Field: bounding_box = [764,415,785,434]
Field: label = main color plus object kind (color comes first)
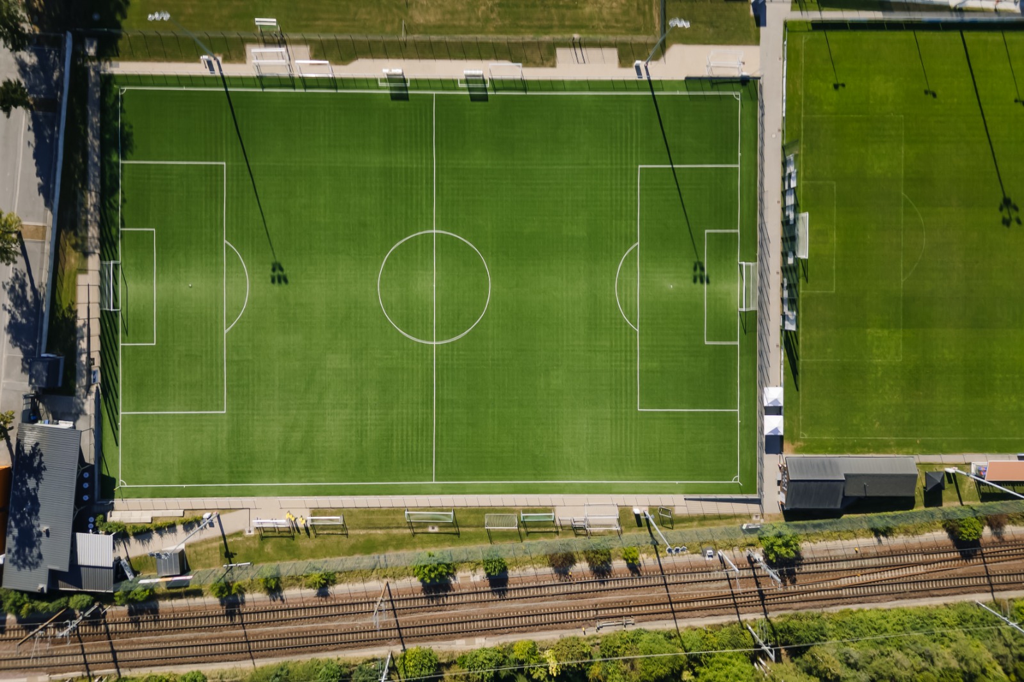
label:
white tent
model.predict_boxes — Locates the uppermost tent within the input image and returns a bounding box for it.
[763,386,785,405]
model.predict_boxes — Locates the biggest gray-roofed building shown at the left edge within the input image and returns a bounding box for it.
[1,422,95,593]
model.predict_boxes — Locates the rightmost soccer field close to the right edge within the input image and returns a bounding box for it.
[781,20,1024,456]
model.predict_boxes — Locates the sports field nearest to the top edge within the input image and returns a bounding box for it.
[125,0,662,40]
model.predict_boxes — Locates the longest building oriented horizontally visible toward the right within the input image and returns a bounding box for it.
[782,455,918,509]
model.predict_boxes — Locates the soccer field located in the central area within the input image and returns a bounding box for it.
[101,76,757,497]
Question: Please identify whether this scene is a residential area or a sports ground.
sports ground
